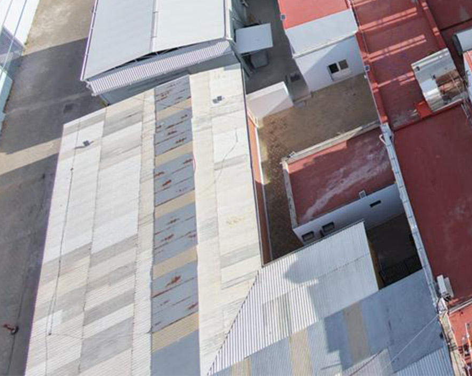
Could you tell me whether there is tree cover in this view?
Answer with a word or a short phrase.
No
